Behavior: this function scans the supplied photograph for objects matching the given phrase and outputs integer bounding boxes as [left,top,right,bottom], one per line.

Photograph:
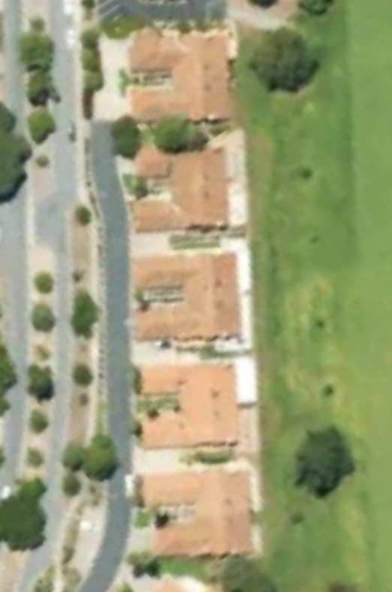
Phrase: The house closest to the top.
[128,28,230,121]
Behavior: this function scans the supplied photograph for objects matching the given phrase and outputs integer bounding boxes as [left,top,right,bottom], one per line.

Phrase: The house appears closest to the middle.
[130,237,255,348]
